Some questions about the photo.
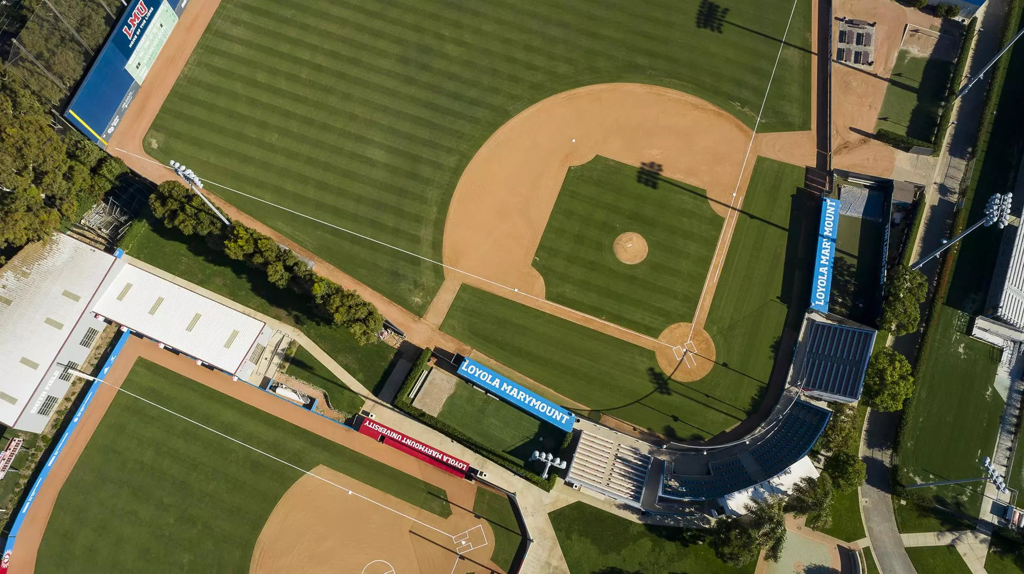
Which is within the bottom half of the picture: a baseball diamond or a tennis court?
baseball diamond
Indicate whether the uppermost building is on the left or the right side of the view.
right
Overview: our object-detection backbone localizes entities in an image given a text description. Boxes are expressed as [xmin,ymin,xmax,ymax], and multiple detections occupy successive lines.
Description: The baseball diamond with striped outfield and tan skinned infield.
[106,0,831,453]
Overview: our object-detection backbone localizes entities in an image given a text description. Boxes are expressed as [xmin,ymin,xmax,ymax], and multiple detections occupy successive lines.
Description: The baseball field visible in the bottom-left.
[7,332,532,574]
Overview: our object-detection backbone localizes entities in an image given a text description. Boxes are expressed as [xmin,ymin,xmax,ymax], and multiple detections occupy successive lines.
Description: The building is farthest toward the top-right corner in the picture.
[920,0,985,28]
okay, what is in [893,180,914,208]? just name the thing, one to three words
shed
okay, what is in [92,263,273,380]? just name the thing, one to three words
building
